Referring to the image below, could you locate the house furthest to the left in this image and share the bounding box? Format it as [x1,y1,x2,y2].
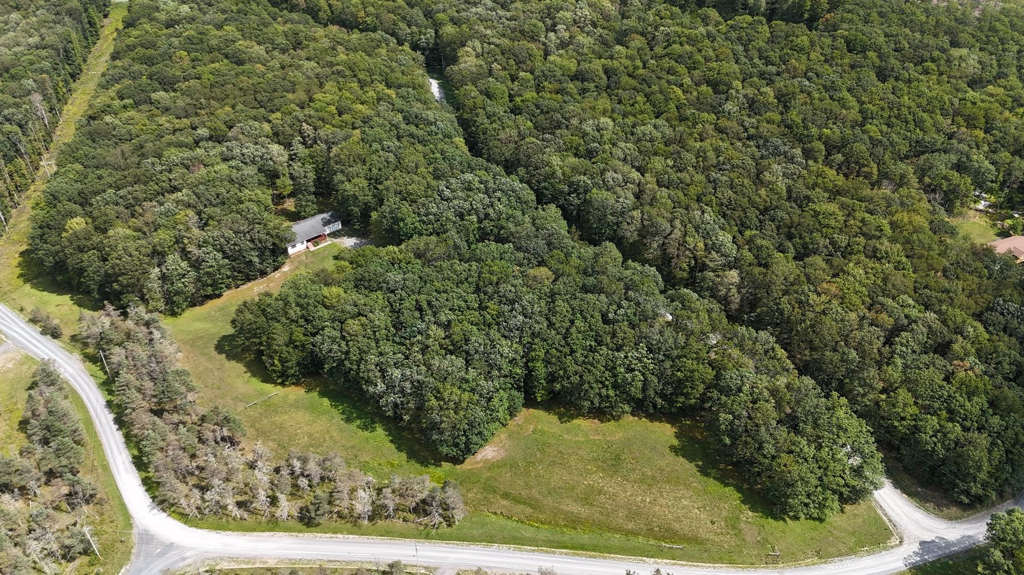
[283,212,343,256]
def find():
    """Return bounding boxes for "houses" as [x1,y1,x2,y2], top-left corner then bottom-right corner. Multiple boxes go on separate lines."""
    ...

[978,233,1024,266]
[283,212,343,256]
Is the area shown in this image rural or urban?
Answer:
rural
